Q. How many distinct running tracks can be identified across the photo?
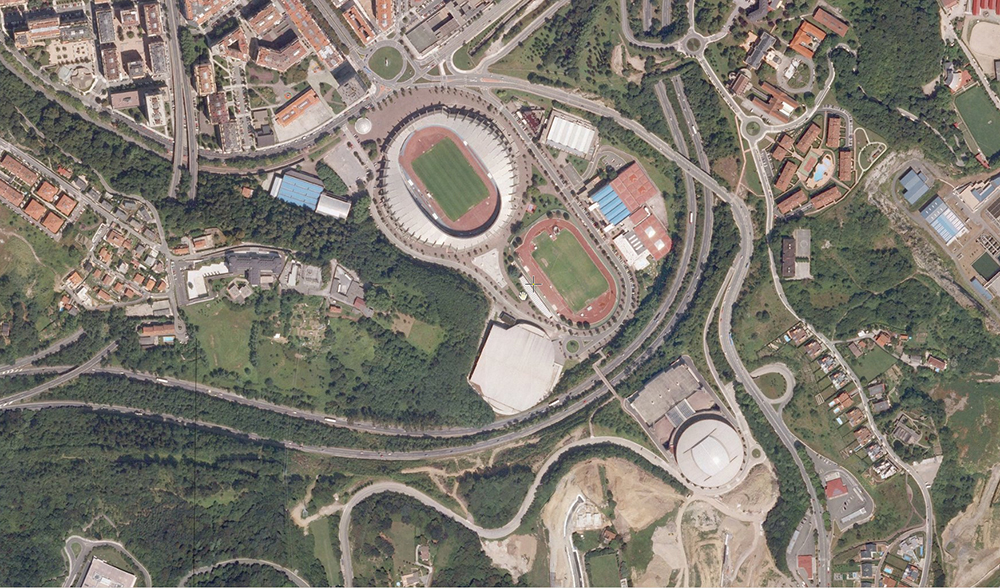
2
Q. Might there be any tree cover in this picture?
Yes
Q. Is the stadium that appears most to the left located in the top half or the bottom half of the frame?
top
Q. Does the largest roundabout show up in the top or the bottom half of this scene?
top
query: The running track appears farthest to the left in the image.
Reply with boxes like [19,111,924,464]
[402,127,499,236]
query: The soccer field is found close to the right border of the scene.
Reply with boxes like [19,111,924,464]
[954,80,1000,159]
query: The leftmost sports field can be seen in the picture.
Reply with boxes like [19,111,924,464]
[411,138,489,223]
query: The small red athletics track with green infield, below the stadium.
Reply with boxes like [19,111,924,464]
[515,215,621,326]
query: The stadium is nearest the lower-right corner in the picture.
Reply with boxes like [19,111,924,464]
[676,419,744,487]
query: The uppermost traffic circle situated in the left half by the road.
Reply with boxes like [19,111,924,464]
[360,35,413,87]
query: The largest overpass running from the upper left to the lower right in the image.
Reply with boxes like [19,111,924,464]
[629,120,744,211]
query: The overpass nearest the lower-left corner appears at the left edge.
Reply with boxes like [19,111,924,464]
[0,336,123,406]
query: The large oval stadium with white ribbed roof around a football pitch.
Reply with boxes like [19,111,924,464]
[382,107,519,252]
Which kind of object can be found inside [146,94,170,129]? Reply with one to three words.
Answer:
building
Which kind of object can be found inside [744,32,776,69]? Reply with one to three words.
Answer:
house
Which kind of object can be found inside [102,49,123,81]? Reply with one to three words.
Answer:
building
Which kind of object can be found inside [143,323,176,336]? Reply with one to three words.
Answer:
house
